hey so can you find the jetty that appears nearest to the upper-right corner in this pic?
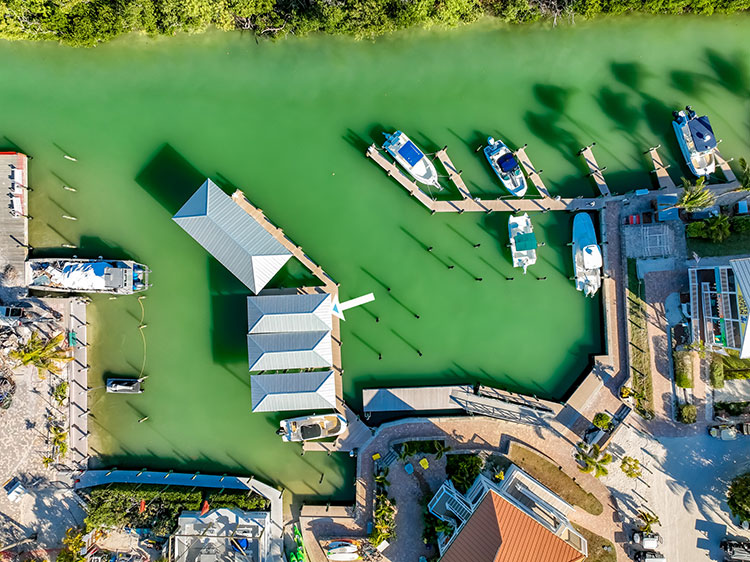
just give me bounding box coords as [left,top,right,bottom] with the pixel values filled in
[711,139,738,182]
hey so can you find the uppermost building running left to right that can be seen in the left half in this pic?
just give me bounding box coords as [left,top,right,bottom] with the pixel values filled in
[247,293,332,334]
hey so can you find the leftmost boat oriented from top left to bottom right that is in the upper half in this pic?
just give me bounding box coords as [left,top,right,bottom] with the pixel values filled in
[385,130,441,188]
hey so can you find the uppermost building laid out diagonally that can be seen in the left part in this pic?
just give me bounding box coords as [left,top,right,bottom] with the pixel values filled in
[171,178,292,295]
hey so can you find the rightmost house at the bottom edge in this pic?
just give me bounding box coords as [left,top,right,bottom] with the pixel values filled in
[426,458,593,562]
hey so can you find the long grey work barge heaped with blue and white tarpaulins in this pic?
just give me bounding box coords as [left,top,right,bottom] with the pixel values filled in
[29,256,152,294]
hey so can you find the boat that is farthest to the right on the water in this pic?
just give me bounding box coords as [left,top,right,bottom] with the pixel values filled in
[669,106,722,180]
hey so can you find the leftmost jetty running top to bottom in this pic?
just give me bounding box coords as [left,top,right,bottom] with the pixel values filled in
[0,151,40,297]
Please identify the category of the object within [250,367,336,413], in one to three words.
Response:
building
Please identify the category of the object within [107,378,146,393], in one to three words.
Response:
boat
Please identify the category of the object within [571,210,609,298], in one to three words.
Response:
boat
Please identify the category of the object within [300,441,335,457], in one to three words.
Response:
pier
